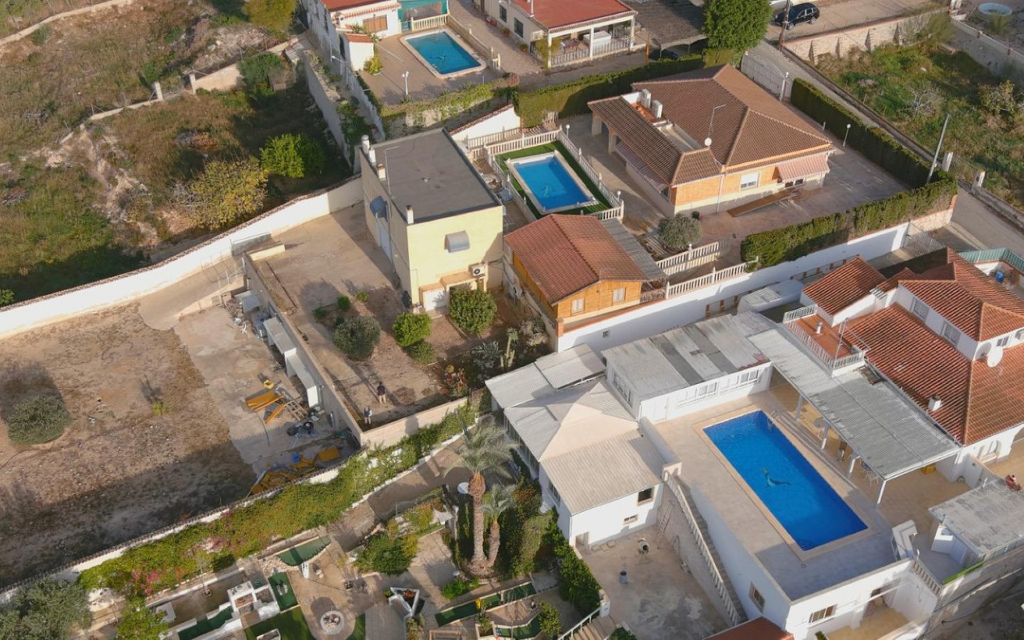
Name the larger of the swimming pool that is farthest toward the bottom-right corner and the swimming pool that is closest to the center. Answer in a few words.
the swimming pool that is farthest toward the bottom-right corner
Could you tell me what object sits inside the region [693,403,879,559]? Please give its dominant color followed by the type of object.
blue swimming pool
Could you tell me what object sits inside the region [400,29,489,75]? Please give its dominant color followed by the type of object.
blue swimming pool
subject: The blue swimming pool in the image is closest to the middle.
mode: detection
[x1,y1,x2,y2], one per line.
[506,153,598,213]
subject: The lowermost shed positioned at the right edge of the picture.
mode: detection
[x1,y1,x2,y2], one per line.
[928,468,1024,571]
